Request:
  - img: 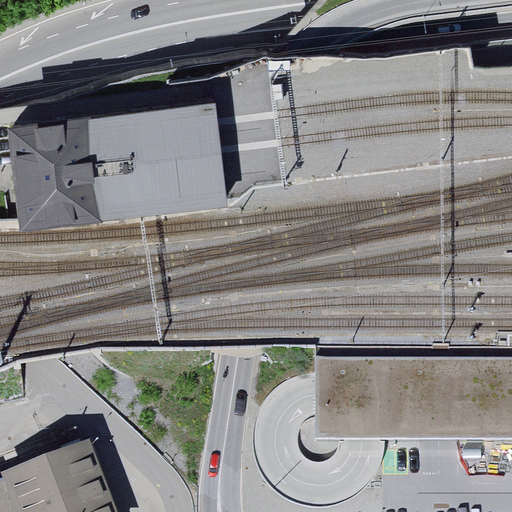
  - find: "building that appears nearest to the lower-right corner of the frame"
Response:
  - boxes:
[316,356,512,442]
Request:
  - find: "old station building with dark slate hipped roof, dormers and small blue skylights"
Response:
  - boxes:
[7,118,102,231]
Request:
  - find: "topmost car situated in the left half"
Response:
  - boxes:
[130,5,152,20]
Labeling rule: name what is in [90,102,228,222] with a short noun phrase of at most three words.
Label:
building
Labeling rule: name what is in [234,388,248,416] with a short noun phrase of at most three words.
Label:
vehicle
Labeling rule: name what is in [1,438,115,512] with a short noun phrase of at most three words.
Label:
building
